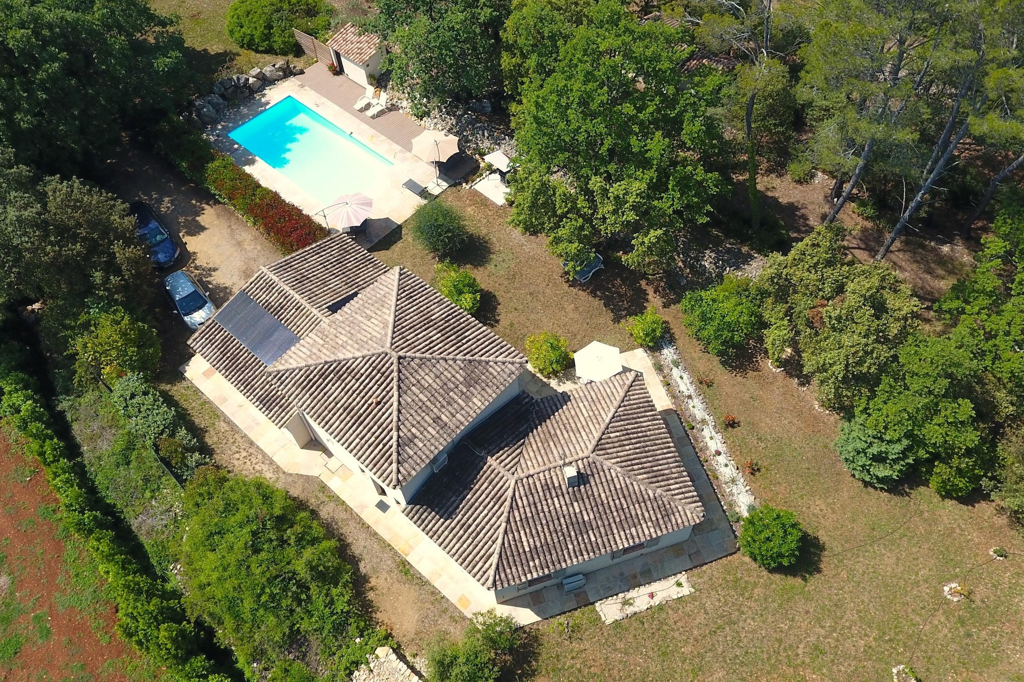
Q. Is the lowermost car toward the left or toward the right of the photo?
left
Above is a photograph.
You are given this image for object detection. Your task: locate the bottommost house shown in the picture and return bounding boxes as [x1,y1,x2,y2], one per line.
[188,230,706,604]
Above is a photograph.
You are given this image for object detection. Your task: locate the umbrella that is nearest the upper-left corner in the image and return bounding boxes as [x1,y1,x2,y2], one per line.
[313,195,373,231]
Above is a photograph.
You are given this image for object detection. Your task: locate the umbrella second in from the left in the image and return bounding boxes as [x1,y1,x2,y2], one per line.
[410,133,460,190]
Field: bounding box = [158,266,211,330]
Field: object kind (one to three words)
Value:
car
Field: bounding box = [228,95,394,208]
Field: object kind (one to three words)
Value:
swimming pool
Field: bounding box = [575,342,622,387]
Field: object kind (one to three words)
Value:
umbrella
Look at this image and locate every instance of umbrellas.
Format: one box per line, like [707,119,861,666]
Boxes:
[410,133,460,190]
[575,342,622,387]
[313,195,373,231]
